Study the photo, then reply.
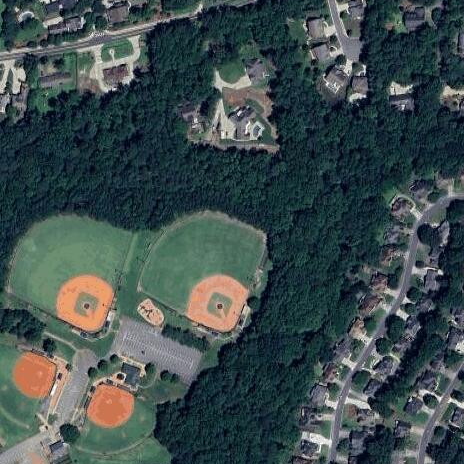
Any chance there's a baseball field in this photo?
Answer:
Yes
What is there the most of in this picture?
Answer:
trees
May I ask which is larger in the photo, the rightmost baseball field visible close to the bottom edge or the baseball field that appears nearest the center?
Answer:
the baseball field that appears nearest the center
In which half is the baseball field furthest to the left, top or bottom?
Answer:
bottom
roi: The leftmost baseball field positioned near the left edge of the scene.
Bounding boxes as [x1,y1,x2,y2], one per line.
[0,331,63,454]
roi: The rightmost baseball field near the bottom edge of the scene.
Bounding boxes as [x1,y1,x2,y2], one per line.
[75,376,154,455]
